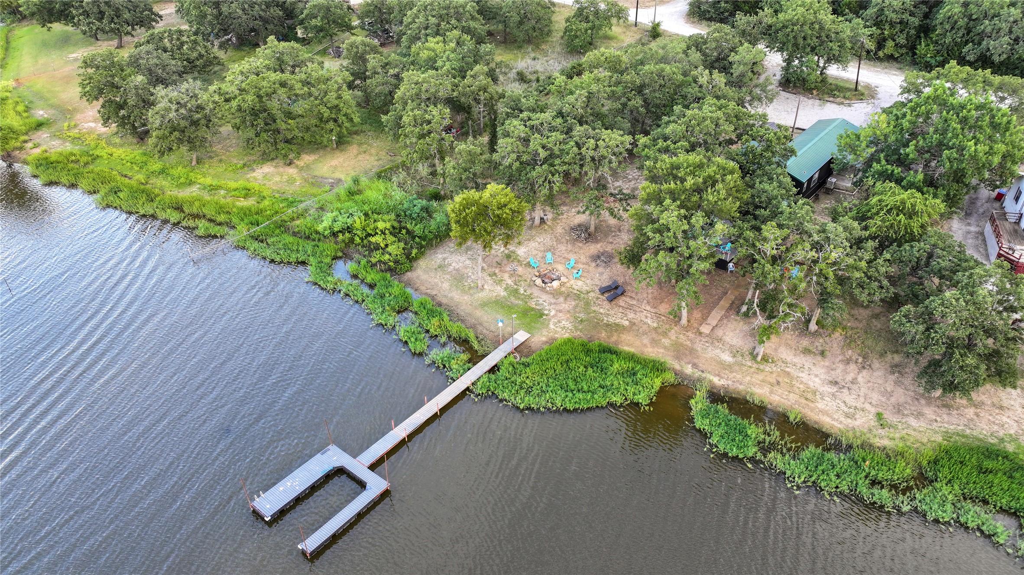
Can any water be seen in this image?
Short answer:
Yes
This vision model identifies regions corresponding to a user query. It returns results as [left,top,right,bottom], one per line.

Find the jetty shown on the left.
[243,419,391,562]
